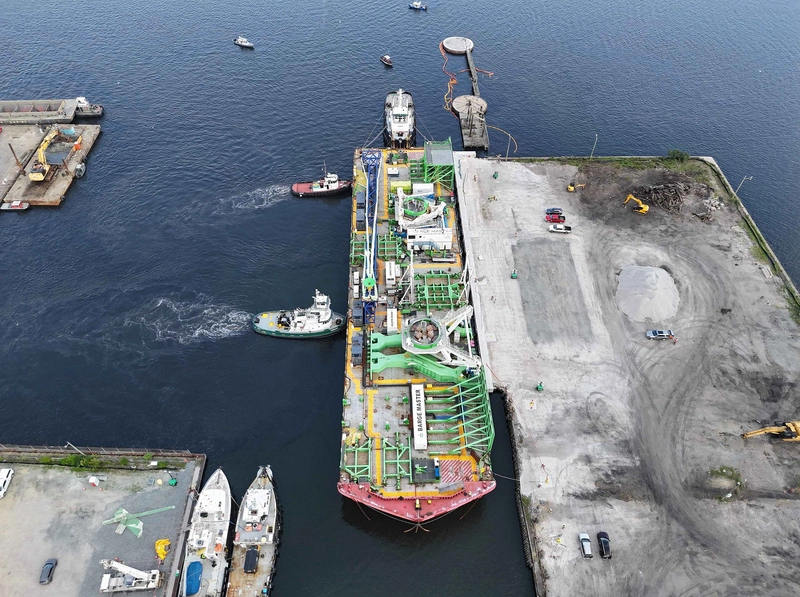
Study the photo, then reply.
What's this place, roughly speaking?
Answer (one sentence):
The area seen from above is a port.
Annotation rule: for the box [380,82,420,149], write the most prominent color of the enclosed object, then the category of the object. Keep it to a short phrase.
white boat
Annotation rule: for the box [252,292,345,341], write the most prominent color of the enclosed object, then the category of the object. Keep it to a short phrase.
white boat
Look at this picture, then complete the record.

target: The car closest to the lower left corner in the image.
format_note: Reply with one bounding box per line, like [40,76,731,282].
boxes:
[34,559,58,588]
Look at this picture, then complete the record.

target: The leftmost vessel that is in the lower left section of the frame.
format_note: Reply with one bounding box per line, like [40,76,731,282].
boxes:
[170,467,232,597]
